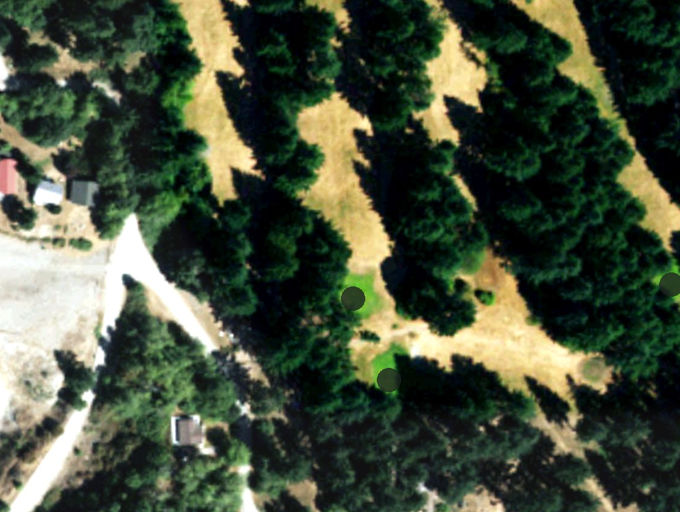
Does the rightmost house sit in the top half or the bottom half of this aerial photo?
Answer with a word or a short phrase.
bottom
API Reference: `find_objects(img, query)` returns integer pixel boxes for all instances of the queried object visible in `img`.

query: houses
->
[70,182,97,207]
[0,159,17,198]
[32,181,63,207]
[171,413,210,457]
